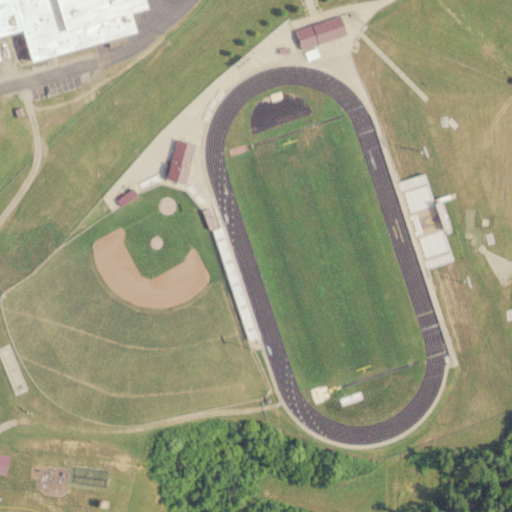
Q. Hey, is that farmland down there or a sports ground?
sports ground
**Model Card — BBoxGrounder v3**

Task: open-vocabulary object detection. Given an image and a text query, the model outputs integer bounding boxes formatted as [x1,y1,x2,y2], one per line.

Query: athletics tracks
[208,66,446,444]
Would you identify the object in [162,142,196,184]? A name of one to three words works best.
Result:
building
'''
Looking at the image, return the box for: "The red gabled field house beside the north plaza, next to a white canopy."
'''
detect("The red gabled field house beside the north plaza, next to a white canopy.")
[296,16,346,52]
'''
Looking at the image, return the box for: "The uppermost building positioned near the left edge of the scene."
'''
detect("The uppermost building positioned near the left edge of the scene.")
[0,0,150,64]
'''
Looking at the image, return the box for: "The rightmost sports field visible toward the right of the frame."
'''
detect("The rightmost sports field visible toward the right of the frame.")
[257,118,420,386]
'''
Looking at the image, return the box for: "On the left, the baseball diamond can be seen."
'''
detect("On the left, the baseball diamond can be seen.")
[2,187,268,424]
